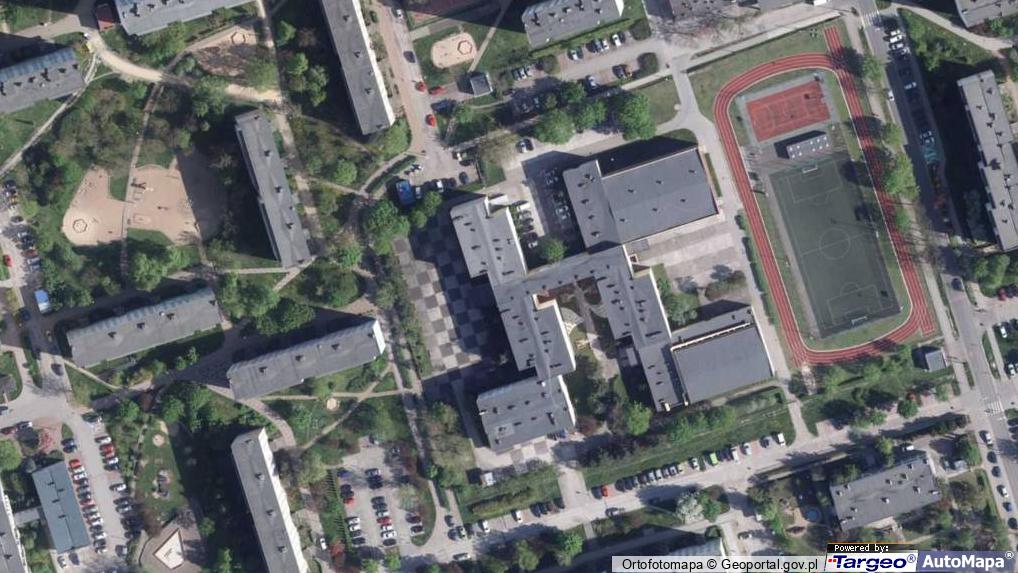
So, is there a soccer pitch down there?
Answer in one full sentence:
Yes, the photo shows a soccer pitch.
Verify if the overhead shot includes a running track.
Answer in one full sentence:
Yes, I can see a running track in this picture.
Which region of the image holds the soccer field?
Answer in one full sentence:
The soccer field is in the right part of the image.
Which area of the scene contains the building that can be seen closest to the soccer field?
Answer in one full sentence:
You can find the building that can be seen closest to the soccer field in the top right area of the picture.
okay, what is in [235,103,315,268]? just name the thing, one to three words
building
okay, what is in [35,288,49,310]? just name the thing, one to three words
vehicle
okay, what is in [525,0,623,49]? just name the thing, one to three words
building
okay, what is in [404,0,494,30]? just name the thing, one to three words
sports court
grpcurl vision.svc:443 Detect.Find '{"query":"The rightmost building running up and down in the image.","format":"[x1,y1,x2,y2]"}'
[953,64,1018,252]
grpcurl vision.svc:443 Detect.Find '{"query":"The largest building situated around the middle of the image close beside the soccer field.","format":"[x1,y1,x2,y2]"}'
[450,144,774,454]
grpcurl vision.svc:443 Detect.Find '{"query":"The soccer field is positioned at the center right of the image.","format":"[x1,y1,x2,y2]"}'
[769,149,900,338]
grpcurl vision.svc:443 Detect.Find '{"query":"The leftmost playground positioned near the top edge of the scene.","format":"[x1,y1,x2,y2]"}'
[195,25,261,65]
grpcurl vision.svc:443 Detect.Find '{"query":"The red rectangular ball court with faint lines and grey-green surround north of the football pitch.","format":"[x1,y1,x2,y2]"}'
[736,71,841,154]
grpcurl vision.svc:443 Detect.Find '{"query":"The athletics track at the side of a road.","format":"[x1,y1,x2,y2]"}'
[716,25,936,365]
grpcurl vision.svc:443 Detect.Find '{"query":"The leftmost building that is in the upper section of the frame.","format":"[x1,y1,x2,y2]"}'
[0,49,92,109]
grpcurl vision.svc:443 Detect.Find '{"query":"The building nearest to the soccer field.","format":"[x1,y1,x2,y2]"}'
[786,131,829,160]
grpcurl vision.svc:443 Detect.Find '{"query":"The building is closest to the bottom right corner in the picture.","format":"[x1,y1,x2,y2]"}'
[830,454,941,530]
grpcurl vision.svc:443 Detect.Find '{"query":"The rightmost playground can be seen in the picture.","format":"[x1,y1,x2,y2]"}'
[432,33,477,68]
